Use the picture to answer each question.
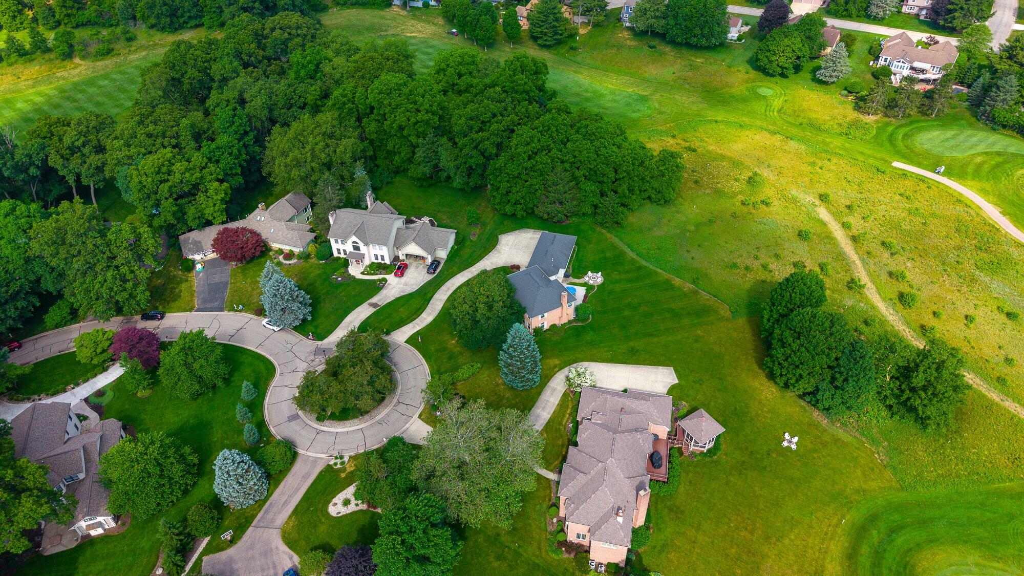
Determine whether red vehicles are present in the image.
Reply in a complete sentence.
Yes, the photo shows a red vehicle.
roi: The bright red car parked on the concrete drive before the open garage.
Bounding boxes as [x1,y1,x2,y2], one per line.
[392,260,409,276]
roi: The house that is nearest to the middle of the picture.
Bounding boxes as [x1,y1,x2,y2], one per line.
[503,231,578,329]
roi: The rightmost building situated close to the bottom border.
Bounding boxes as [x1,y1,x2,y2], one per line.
[558,386,675,563]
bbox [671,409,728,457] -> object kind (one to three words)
gazebo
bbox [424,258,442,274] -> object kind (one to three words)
car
